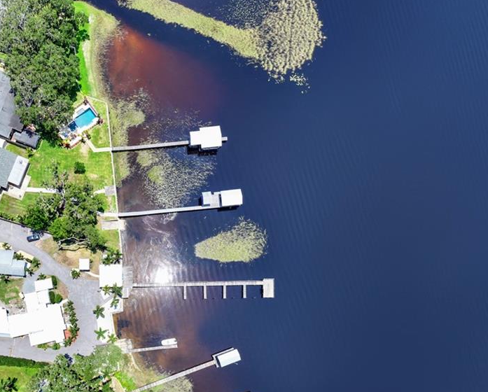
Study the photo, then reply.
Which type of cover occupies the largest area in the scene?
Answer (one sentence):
For the most part, this view shows water.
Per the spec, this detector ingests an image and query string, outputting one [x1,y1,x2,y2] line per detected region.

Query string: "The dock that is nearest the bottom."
[129,346,234,392]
